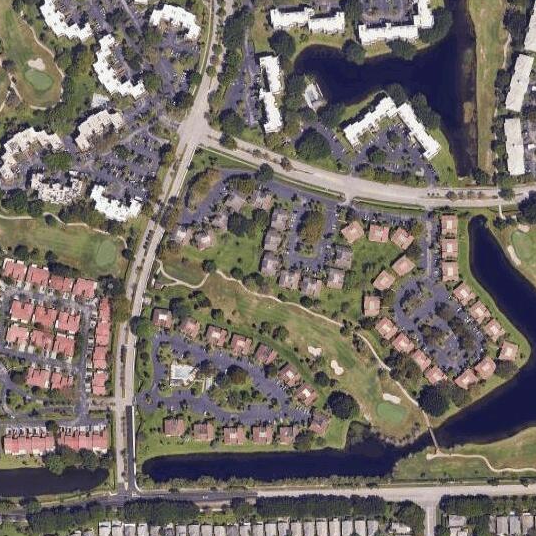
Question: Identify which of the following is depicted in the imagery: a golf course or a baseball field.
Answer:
golf course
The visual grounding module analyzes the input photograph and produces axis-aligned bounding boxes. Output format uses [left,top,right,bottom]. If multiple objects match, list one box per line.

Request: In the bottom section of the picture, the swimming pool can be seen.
[171,362,198,385]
